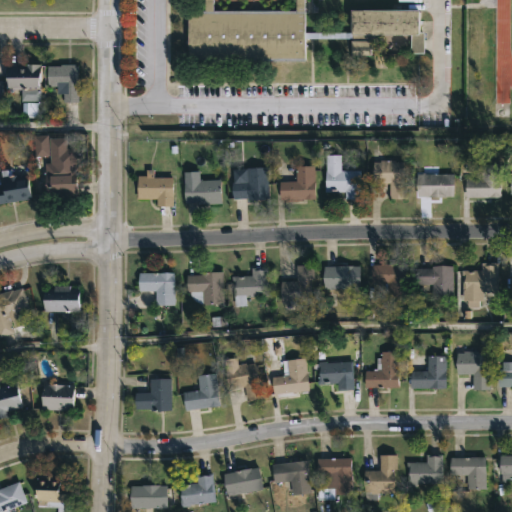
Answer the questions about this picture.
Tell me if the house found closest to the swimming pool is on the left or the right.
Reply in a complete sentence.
The house found closest to the swimming pool sits on the left side.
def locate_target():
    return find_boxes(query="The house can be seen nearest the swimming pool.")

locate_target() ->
[38,382,76,411]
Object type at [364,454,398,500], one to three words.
house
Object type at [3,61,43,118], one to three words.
house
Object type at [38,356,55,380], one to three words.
swimming pool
